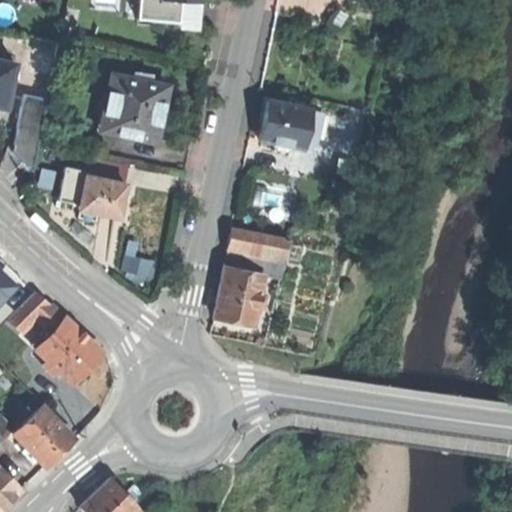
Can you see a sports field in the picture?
No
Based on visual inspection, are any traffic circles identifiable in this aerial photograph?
Yes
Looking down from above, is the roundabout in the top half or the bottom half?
bottom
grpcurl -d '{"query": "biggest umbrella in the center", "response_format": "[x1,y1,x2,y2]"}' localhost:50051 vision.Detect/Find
[268,208,284,224]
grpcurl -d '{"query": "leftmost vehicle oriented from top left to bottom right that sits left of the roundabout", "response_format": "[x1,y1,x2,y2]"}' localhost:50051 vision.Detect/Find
[2,456,16,472]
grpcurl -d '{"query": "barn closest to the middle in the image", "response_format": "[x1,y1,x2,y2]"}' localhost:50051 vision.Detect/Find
[227,228,292,264]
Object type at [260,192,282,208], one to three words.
swimming pool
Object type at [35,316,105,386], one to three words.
house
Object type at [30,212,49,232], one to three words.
vehicle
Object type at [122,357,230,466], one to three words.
roundabout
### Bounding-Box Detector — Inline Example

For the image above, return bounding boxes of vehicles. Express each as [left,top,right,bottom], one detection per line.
[206,114,216,134]
[8,289,25,306]
[134,144,154,154]
[184,214,194,232]
[2,456,16,472]
[30,212,49,232]
[126,2,134,20]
